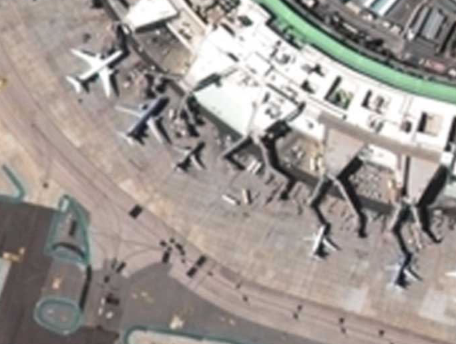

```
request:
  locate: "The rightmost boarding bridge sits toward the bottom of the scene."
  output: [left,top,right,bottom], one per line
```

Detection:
[411,206,433,243]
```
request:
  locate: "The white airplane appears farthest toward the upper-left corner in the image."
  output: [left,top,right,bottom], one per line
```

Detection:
[64,49,120,98]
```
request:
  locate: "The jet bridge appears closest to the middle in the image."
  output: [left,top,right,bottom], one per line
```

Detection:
[221,134,253,173]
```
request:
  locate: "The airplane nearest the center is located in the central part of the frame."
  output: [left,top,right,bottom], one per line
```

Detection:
[172,144,203,173]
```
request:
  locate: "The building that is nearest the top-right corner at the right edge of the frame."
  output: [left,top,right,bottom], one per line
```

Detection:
[403,6,454,59]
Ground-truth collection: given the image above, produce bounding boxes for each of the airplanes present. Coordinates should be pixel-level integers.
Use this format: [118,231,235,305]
[172,144,203,173]
[64,49,120,98]
[118,97,168,144]
[301,228,335,260]
[384,257,417,290]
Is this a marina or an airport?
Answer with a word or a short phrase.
airport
